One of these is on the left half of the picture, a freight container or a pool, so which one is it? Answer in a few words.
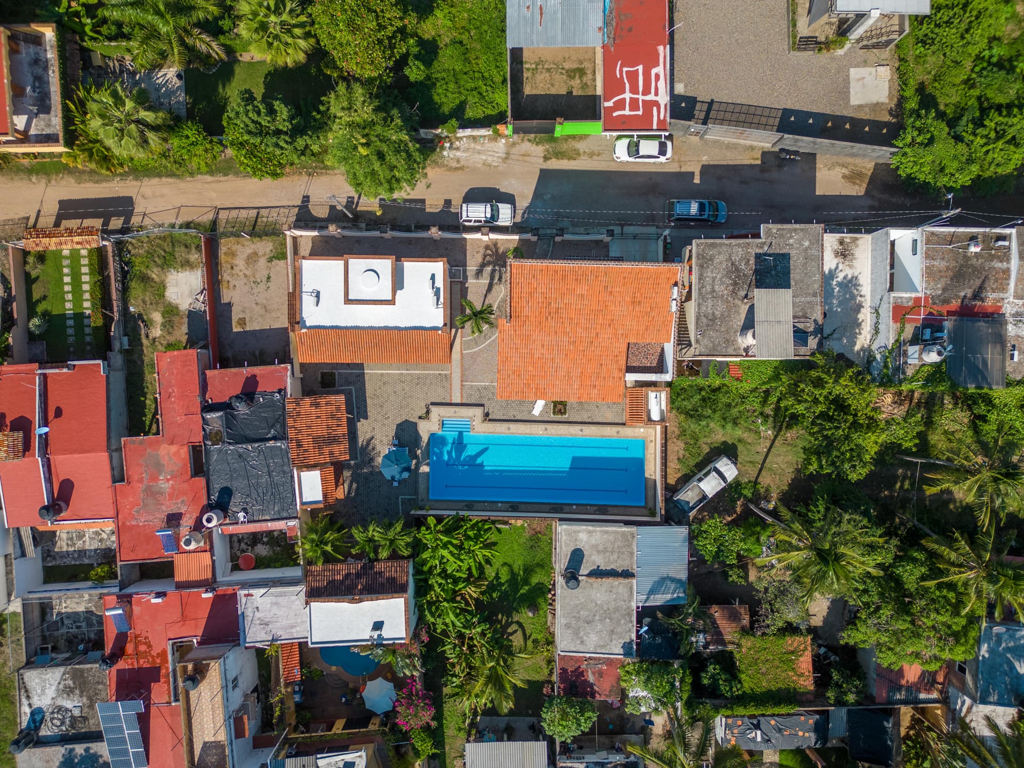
pool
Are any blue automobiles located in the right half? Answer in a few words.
Yes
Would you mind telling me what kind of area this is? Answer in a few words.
residential area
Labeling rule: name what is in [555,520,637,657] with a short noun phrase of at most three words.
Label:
house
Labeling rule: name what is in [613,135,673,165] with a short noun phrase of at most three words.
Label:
car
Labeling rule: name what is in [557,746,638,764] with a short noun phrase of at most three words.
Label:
shed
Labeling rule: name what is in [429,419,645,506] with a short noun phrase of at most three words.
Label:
swimming pool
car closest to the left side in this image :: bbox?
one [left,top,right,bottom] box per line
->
[459,200,514,229]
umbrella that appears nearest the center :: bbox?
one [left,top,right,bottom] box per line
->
[379,445,413,479]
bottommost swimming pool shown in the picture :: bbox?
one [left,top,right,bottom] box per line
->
[320,645,385,675]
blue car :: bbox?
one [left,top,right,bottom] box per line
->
[665,197,726,227]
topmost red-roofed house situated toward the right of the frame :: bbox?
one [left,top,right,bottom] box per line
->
[600,0,669,140]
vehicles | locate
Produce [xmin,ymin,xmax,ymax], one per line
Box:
[776,149,802,159]
[665,197,726,227]
[670,455,739,517]
[613,135,673,165]
[459,200,514,229]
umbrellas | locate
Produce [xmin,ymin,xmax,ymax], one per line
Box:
[362,674,398,710]
[379,445,413,479]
